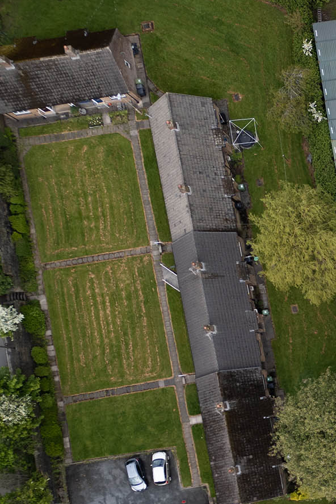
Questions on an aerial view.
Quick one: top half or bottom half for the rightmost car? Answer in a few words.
bottom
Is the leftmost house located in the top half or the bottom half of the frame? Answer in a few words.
top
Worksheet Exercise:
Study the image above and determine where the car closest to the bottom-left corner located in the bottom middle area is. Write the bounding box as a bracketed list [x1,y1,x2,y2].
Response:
[124,457,150,490]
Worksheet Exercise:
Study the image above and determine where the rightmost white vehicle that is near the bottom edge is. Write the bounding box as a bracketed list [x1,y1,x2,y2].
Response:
[151,452,171,485]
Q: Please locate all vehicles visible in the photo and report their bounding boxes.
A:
[151,452,171,485]
[124,457,150,490]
